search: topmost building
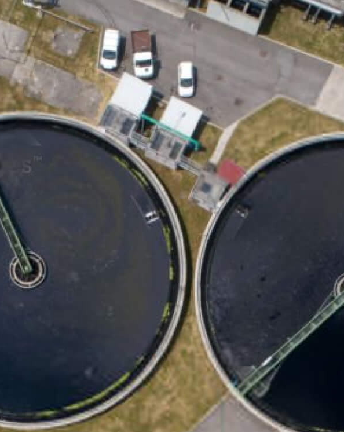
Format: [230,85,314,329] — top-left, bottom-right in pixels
[110,72,153,118]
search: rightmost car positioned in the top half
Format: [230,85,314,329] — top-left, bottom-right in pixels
[177,62,195,97]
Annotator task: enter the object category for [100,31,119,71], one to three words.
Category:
car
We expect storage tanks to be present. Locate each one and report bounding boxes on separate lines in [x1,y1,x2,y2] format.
[195,132,344,432]
[0,112,187,430]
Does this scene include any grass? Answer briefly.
Yes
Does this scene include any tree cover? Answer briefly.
No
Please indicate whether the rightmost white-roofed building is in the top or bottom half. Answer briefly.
top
